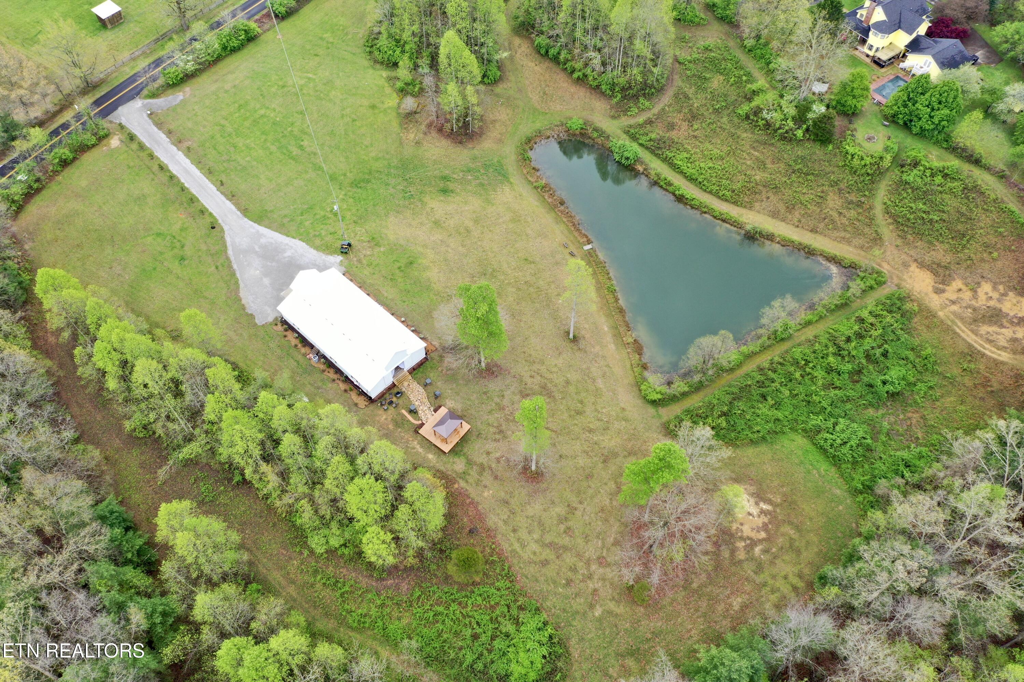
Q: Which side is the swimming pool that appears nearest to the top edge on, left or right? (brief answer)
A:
right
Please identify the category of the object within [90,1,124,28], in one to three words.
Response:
shed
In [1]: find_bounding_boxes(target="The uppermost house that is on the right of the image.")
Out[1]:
[834,0,934,56]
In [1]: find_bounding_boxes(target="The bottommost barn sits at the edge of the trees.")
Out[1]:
[277,267,426,398]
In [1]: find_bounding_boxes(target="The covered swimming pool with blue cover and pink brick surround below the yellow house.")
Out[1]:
[865,72,917,102]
